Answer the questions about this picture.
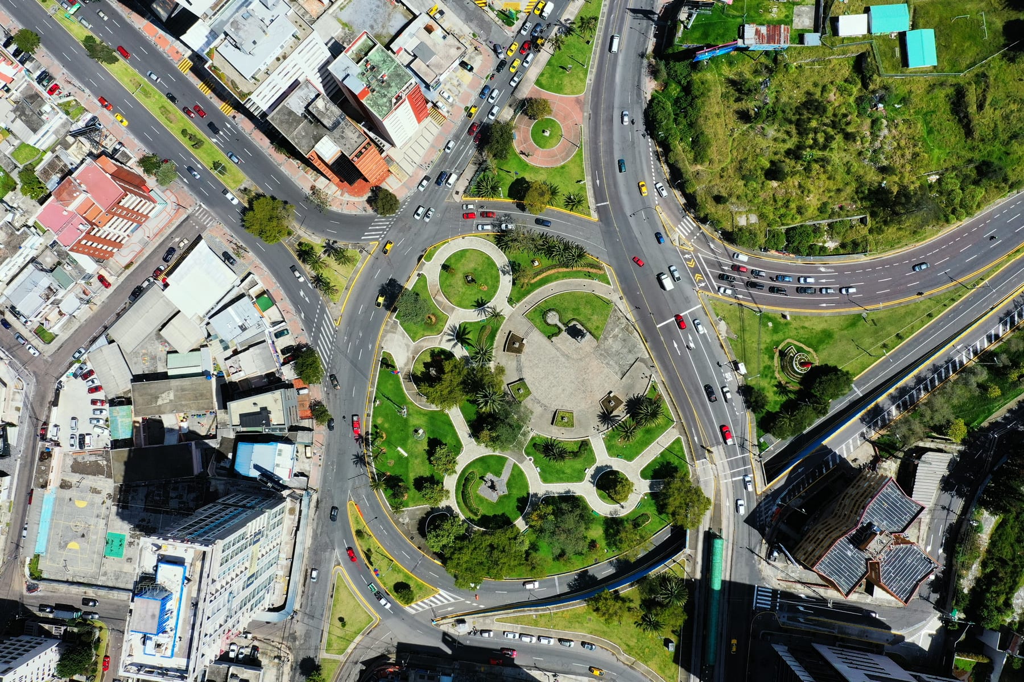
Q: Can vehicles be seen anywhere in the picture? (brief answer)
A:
Yes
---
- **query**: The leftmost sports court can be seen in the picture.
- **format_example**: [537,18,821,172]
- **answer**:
[39,451,112,579]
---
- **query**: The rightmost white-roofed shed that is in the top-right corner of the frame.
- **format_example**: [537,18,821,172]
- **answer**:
[835,13,868,39]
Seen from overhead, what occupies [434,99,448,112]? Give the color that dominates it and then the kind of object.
white vehicle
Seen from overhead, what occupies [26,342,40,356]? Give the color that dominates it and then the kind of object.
white car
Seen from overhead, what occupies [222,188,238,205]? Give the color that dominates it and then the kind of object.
white vehicle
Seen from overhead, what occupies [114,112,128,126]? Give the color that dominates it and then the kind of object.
yellow car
